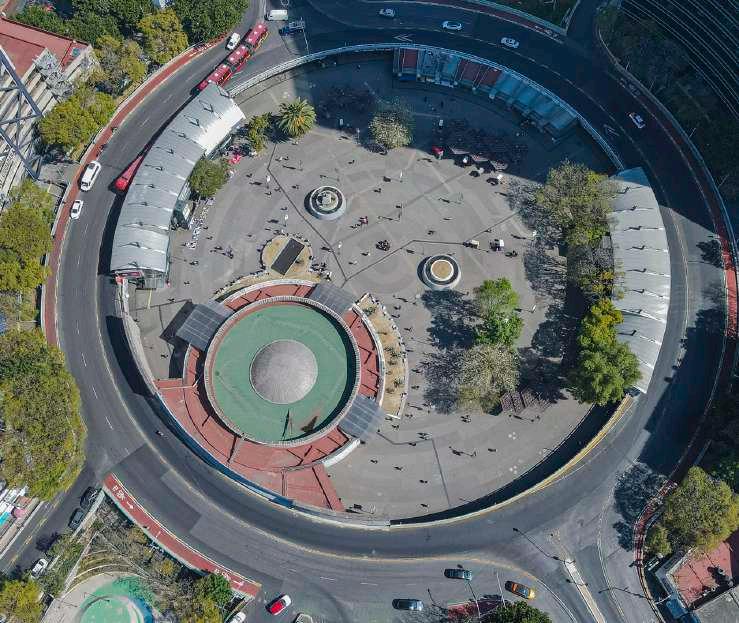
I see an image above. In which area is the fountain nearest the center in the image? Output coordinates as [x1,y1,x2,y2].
[421,252,461,289]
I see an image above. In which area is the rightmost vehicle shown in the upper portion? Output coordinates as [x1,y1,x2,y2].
[627,113,646,130]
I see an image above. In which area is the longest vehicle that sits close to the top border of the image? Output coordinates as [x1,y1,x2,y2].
[191,23,271,98]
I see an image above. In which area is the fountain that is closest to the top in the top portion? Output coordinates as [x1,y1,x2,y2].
[307,185,345,220]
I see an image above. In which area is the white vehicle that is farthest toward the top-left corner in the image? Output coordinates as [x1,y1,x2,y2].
[83,162,101,187]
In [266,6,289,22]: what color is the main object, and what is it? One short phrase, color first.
white vehicle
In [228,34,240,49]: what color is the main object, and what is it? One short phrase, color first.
white vehicle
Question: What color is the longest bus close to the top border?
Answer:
red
